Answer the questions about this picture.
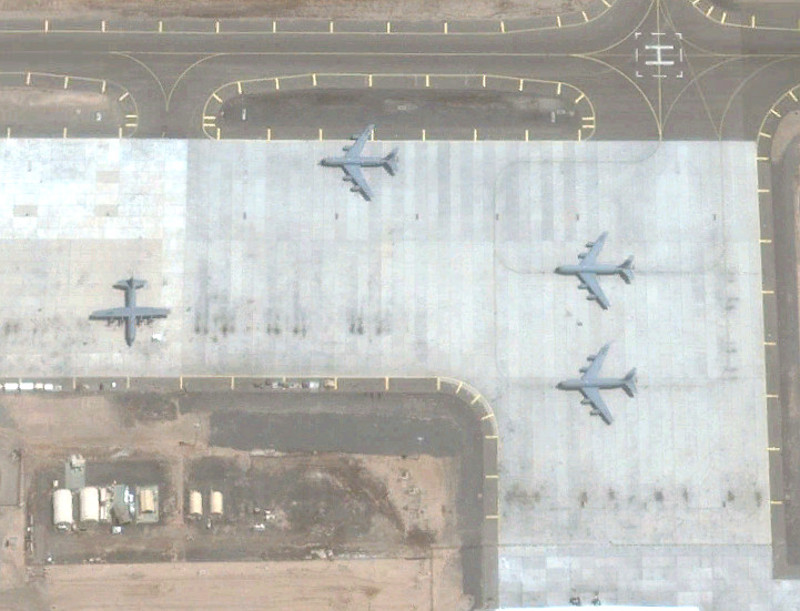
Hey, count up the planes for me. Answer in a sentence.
Looking from above, you can make out 4 planes.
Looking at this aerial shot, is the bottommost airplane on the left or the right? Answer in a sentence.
The bottommost airplane sits on the right side.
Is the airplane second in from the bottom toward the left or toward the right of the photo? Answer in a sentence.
It is on the left.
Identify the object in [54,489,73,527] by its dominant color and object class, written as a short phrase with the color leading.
white tent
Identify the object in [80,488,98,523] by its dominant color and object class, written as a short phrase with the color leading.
white tent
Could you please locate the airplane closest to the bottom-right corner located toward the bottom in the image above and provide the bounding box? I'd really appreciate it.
[555,345,636,421]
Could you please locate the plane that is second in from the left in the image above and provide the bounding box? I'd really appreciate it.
[317,123,398,198]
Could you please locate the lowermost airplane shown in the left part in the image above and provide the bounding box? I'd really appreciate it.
[93,280,170,346]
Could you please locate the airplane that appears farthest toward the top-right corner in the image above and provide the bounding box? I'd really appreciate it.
[553,232,634,308]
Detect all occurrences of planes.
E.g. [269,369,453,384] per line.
[317,123,398,198]
[553,232,634,308]
[93,280,170,346]
[555,345,636,421]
